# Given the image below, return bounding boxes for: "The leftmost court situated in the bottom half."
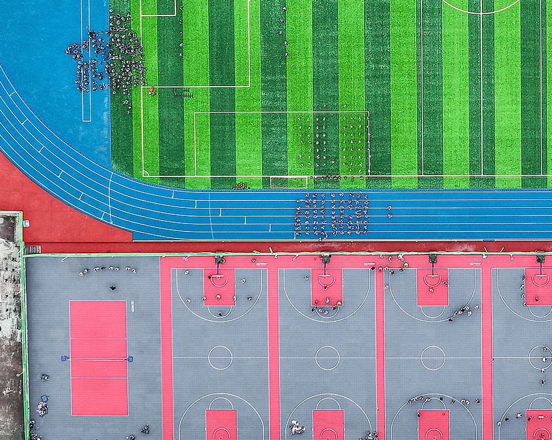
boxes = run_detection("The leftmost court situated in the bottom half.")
[70,301,128,416]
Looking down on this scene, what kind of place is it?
sports ground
